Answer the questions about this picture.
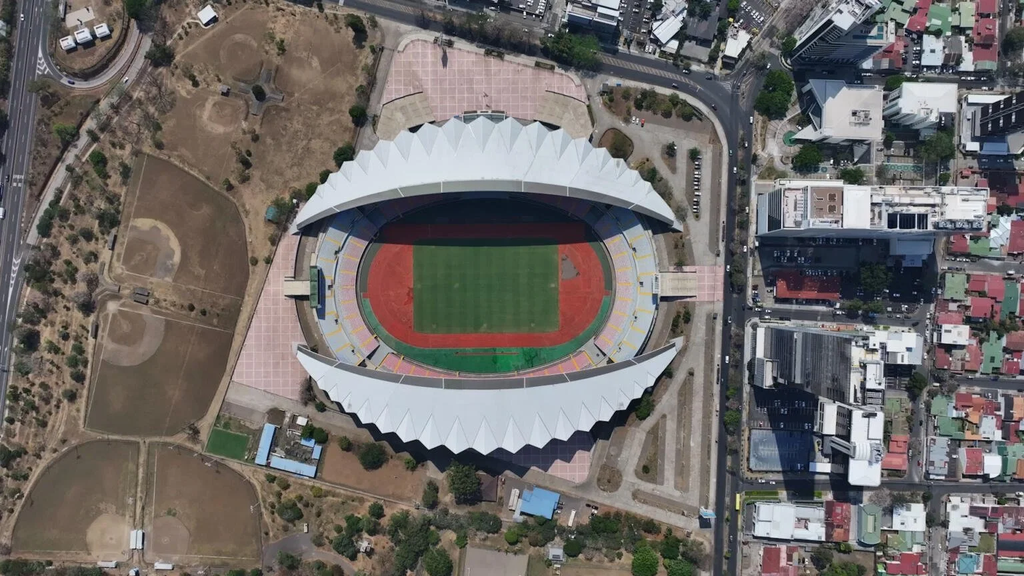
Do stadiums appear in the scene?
Yes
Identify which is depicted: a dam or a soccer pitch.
soccer pitch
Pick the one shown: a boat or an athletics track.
athletics track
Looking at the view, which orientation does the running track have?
from side to side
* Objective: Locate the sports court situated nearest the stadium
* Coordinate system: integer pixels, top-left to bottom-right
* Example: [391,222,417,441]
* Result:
[465,545,528,576]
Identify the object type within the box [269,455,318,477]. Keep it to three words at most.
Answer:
shed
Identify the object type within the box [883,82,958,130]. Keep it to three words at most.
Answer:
building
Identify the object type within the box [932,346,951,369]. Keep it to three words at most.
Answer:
house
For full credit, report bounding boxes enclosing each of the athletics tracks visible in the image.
[368,223,611,348]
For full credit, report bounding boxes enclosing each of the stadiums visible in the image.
[285,90,696,455]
